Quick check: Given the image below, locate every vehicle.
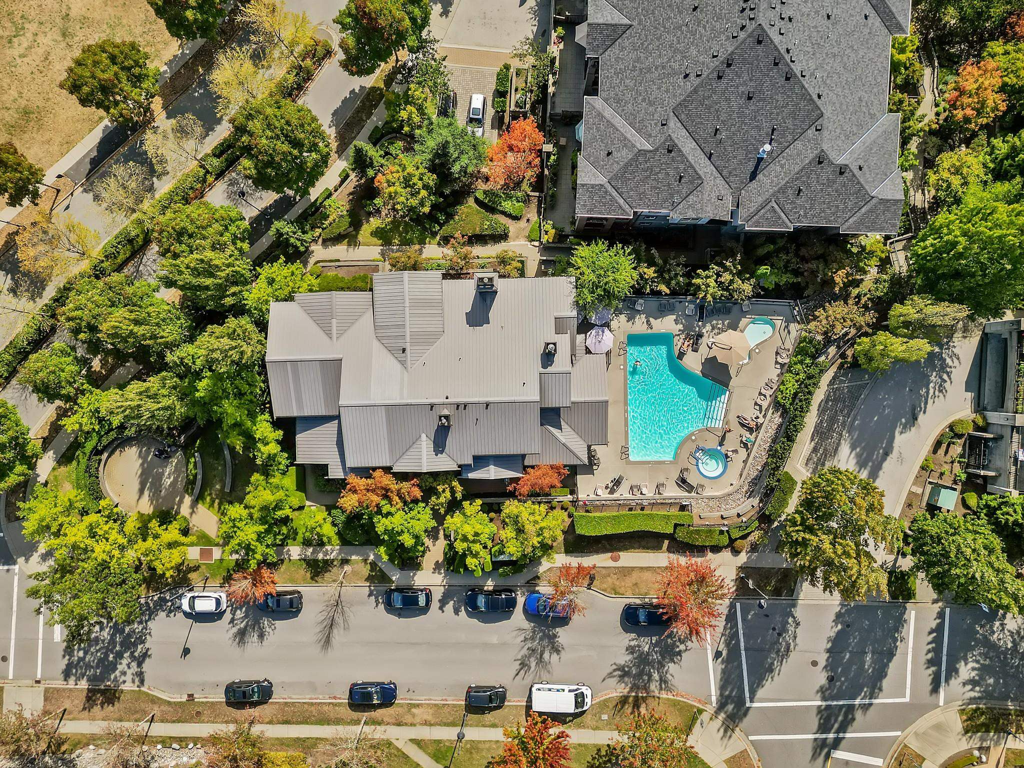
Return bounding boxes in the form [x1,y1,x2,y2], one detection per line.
[466,683,506,708]
[225,679,274,705]
[349,680,398,707]
[530,683,590,715]
[466,588,516,613]
[525,593,570,618]
[182,591,229,615]
[385,586,432,610]
[620,601,676,628]
[257,589,305,613]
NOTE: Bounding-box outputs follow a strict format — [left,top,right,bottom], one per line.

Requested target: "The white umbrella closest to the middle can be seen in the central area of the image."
[585,327,613,354]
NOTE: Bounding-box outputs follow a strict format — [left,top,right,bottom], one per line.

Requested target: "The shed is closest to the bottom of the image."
[917,477,961,510]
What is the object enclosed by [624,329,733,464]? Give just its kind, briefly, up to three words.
swimming pool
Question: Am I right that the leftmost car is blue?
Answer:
No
